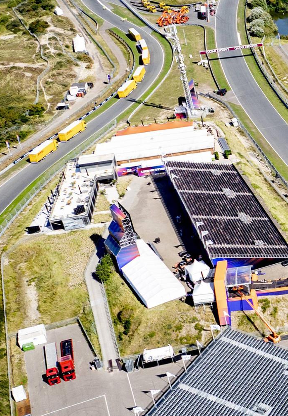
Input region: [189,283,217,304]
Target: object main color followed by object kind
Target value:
white tent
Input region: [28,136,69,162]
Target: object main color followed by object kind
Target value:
yellow truck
